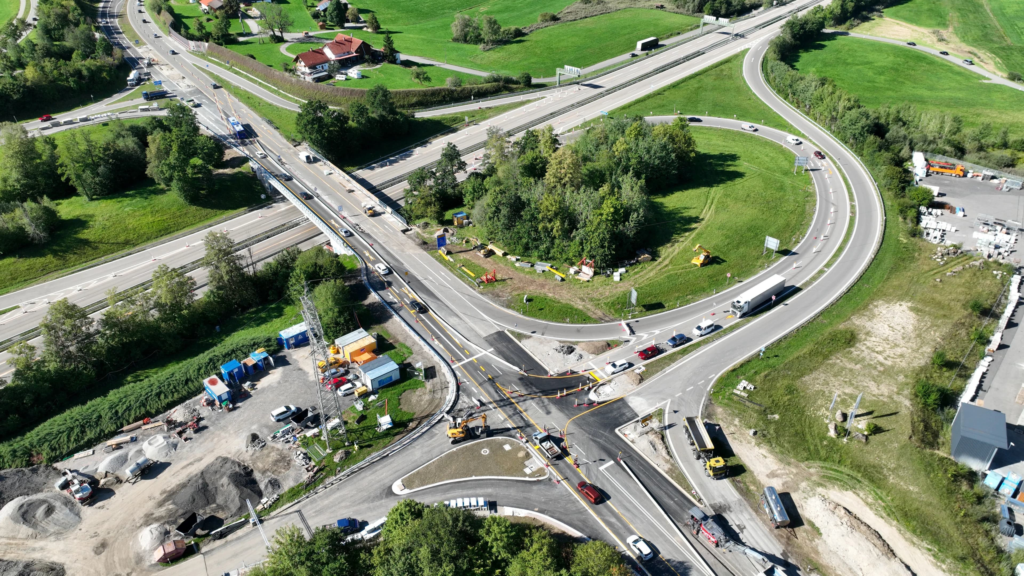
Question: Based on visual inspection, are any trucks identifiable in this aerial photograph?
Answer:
Yes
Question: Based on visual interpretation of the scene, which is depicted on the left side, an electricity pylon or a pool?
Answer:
electricity pylon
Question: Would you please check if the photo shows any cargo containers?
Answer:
Yes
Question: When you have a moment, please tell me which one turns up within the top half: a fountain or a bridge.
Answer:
bridge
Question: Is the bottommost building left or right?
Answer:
right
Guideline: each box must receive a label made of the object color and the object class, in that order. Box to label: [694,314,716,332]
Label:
white vehicle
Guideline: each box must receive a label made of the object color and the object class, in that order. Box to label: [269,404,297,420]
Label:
white car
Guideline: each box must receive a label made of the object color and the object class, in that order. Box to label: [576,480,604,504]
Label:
red car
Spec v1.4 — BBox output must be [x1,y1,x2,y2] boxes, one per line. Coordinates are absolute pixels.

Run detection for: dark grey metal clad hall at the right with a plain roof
[952,397,1012,472]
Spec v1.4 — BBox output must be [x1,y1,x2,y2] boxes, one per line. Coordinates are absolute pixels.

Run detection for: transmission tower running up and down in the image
[306,285,356,460]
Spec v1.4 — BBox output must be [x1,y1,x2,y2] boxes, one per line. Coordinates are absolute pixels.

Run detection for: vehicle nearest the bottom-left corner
[59,456,91,500]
